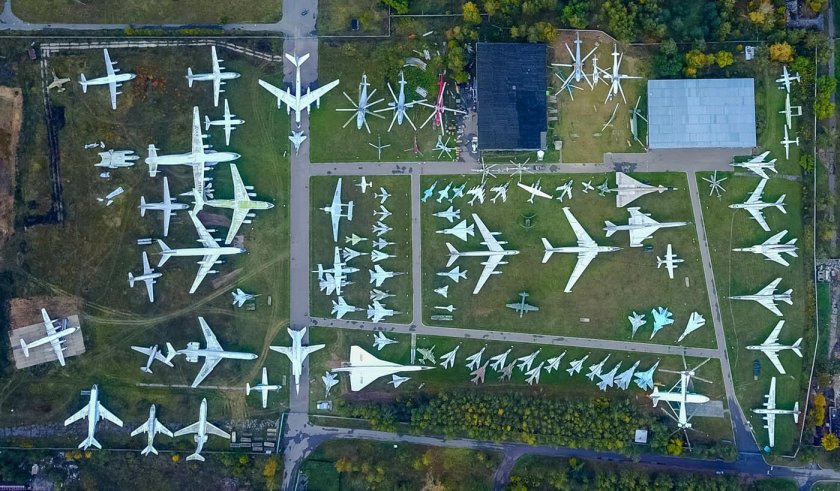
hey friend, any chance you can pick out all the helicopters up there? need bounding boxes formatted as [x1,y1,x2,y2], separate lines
[413,75,467,134]
[582,54,610,85]
[504,158,534,182]
[651,352,712,449]
[404,137,423,157]
[374,73,427,132]
[628,97,647,151]
[369,136,390,159]
[472,158,504,183]
[551,32,598,90]
[336,71,385,134]
[596,42,642,104]
[432,135,457,158]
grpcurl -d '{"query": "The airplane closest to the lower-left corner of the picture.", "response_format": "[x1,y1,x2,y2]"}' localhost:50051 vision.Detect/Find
[62,384,121,452]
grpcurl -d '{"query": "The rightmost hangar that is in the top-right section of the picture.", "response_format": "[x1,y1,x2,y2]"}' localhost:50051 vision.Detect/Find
[645,78,756,149]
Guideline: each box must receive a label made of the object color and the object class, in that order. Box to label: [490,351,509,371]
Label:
white airplane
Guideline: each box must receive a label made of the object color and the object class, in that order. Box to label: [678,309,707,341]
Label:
white airplane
